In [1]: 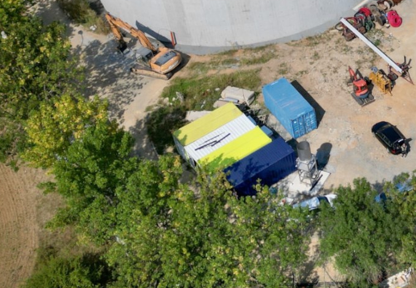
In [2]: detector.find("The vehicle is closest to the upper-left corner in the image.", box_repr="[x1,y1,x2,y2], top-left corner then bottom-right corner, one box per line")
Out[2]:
[97,28,183,75]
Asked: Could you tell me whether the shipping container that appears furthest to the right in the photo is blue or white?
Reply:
blue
